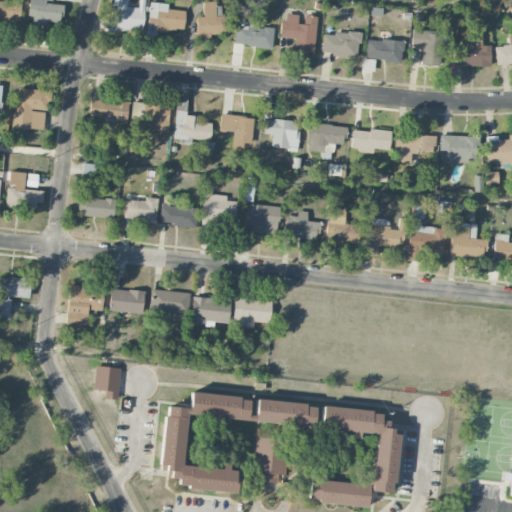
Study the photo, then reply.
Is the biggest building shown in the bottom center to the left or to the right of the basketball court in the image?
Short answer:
to the left of it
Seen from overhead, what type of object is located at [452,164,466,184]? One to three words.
swimming pool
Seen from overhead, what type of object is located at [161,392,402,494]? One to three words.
building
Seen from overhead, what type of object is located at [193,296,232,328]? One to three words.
house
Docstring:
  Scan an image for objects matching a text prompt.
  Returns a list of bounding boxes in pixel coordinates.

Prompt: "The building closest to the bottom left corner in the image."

[95,366,128,400]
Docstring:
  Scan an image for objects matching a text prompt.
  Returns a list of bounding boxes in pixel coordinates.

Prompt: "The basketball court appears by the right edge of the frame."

[459,396,512,483]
